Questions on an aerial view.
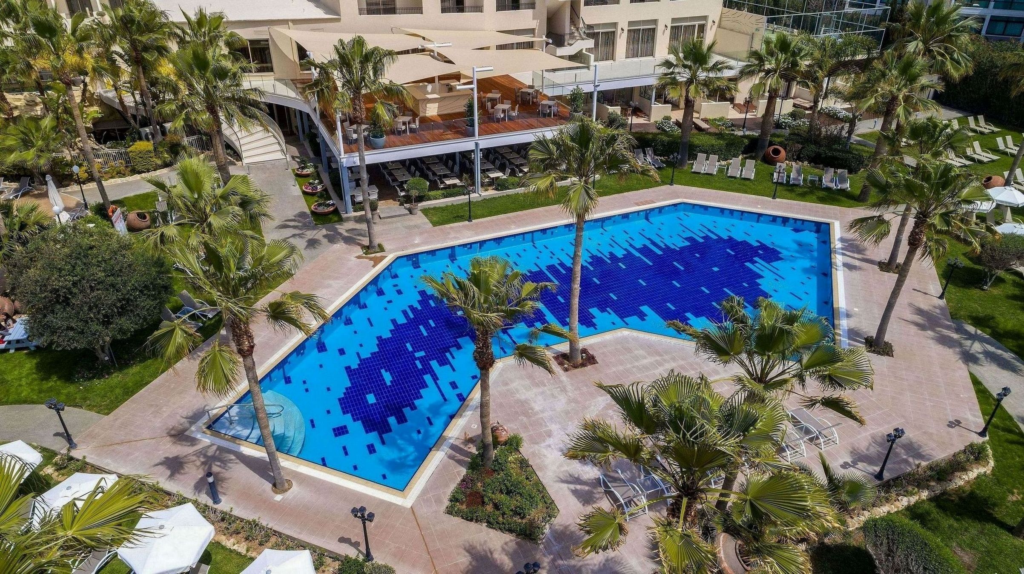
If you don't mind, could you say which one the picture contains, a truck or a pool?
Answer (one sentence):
I can see a pool in this picture.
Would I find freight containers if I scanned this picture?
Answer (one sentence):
No, no freight container is visible in the view.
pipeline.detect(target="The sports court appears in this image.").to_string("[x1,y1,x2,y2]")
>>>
[719,0,890,57]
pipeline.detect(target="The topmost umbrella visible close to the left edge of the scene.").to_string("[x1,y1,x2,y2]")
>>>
[46,175,67,216]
